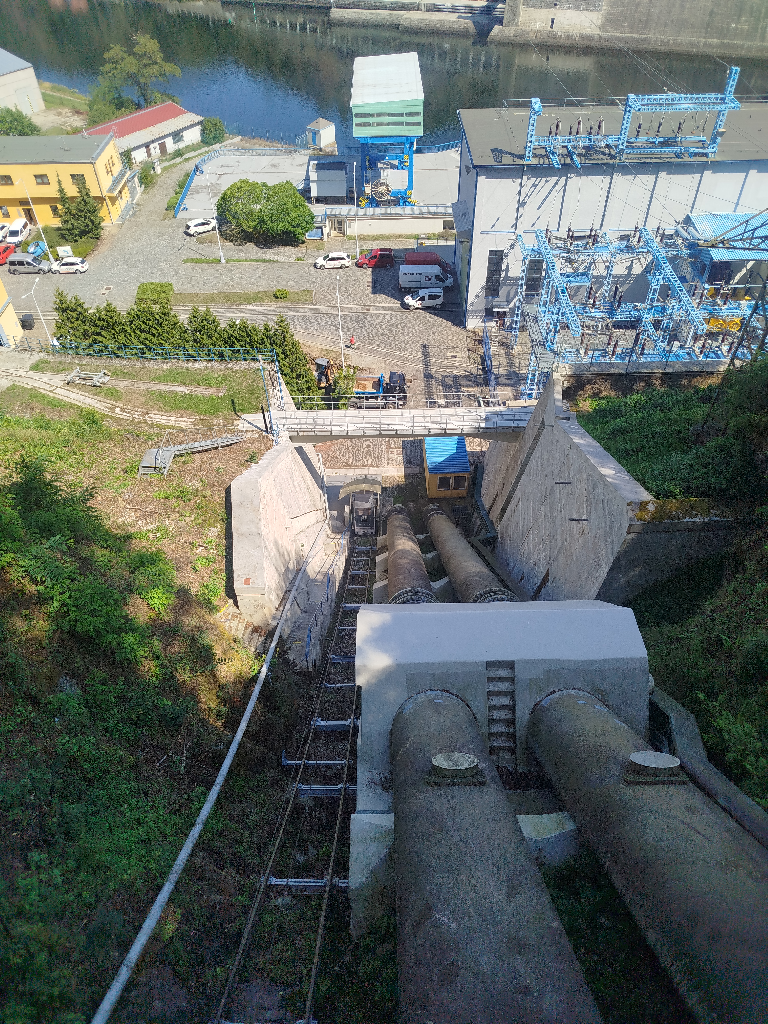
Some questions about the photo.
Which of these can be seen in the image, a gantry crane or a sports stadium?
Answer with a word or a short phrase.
gantry crane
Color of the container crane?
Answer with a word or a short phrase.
white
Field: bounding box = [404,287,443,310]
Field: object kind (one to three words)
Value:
vehicle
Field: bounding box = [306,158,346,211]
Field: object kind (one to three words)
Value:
building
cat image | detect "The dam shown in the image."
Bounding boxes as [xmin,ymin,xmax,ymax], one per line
[496,0,768,57]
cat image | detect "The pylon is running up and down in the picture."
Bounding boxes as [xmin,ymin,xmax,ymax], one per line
[691,212,768,446]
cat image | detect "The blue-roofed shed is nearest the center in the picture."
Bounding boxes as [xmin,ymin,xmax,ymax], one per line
[422,436,470,497]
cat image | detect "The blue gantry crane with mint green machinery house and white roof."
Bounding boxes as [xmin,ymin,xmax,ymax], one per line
[349,53,425,212]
